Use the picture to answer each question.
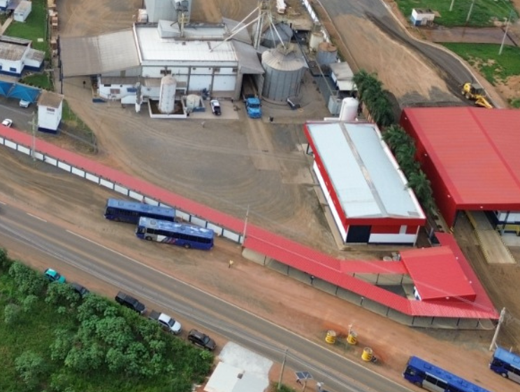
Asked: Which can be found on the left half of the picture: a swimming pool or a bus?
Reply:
bus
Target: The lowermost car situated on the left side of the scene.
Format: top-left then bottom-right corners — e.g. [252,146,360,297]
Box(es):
[185,324,218,350]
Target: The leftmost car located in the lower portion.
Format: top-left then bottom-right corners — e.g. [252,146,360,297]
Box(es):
[42,263,69,283]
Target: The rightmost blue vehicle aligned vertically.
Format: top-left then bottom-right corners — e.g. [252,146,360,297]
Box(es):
[245,84,261,115]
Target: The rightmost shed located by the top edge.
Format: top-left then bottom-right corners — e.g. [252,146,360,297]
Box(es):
[410,8,435,28]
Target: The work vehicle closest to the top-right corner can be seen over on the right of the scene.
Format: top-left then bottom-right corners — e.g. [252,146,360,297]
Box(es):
[456,79,500,105]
